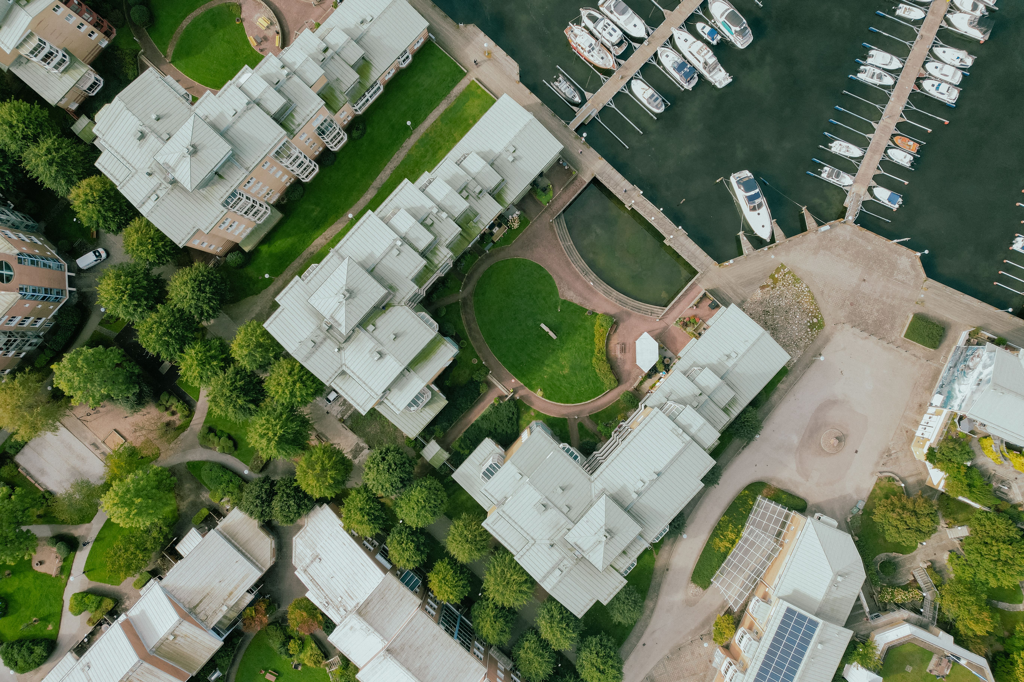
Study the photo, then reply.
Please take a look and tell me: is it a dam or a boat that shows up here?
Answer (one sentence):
The one in the frame is a boat.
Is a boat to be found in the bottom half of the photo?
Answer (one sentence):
No, the scene shows no boat in the bottom half of the photo.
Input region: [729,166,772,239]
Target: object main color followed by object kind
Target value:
white boat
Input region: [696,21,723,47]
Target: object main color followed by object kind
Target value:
white boat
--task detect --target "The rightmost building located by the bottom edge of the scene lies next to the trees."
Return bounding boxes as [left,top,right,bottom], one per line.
[866,620,996,682]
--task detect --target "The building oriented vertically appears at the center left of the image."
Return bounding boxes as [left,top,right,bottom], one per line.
[0,216,76,377]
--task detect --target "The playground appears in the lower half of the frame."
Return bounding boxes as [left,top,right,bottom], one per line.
[70,399,179,447]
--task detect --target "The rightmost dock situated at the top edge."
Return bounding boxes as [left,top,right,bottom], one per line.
[843,0,951,206]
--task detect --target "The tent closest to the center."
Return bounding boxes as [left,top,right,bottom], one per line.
[632,332,659,373]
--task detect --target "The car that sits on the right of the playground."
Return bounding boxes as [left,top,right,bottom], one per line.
[321,388,344,407]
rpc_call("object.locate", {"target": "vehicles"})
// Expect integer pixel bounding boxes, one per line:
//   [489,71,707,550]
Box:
[321,388,344,407]
[73,247,112,271]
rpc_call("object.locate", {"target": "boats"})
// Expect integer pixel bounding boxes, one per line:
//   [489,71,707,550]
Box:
[887,149,919,167]
[921,79,961,104]
[591,0,649,39]
[891,4,928,18]
[707,0,756,56]
[1006,236,1024,252]
[631,78,667,116]
[893,136,924,154]
[672,24,738,96]
[852,65,897,83]
[944,12,996,49]
[815,166,856,184]
[827,138,866,155]
[582,6,631,59]
[932,45,976,69]
[729,166,772,239]
[696,21,723,47]
[953,0,991,17]
[561,20,616,71]
[872,187,906,209]
[924,61,964,86]
[863,50,905,68]
[657,45,701,98]
[549,72,581,103]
